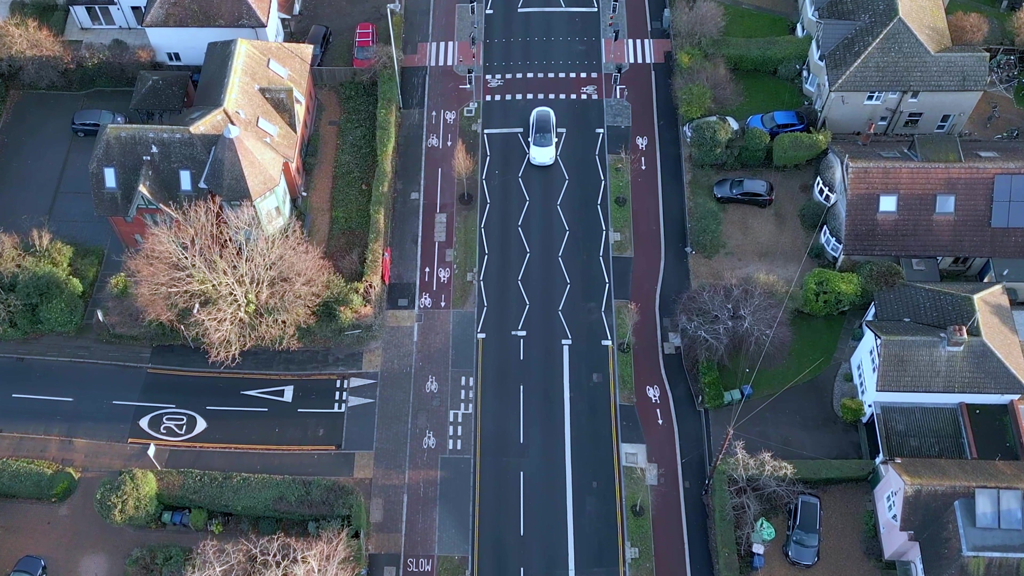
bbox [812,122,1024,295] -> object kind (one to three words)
house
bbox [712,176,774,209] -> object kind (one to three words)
car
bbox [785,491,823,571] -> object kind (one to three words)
car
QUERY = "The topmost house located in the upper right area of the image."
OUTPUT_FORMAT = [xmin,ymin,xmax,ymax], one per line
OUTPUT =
[794,0,990,130]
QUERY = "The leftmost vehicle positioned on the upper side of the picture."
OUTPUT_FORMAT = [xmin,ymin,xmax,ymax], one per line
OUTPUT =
[70,107,130,138]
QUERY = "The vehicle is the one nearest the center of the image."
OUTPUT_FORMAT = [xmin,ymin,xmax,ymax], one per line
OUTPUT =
[528,109,558,167]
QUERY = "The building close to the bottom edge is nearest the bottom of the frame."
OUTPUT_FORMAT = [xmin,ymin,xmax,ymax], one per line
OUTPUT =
[876,461,1024,576]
